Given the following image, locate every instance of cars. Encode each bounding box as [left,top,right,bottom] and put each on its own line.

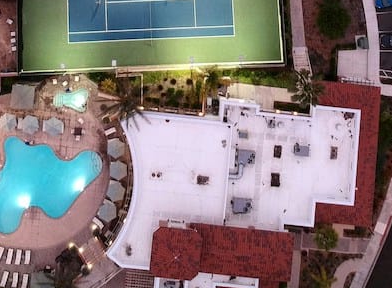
[374,0,392,9]
[379,33,392,48]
